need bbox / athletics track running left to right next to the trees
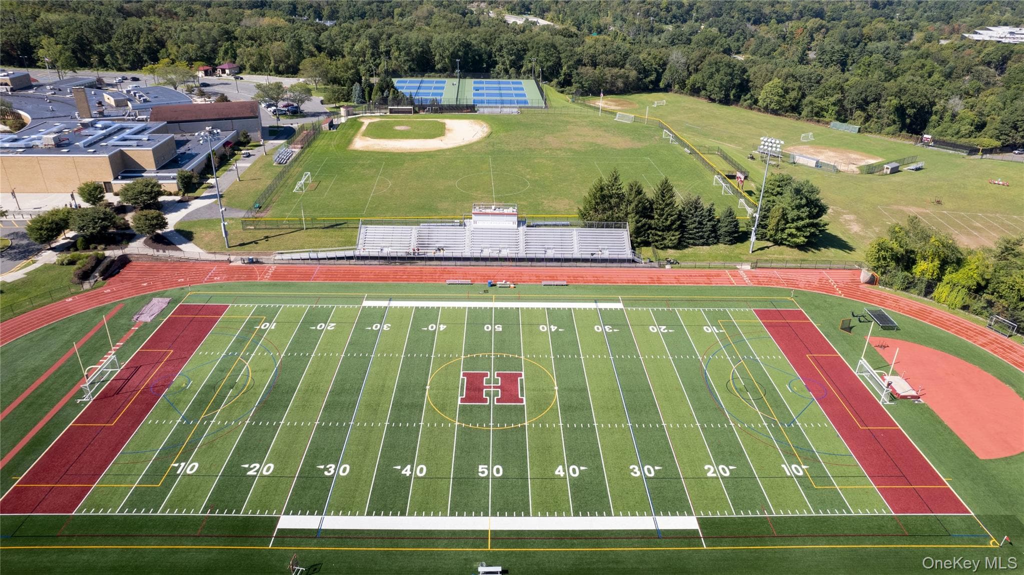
[0,262,1024,575]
